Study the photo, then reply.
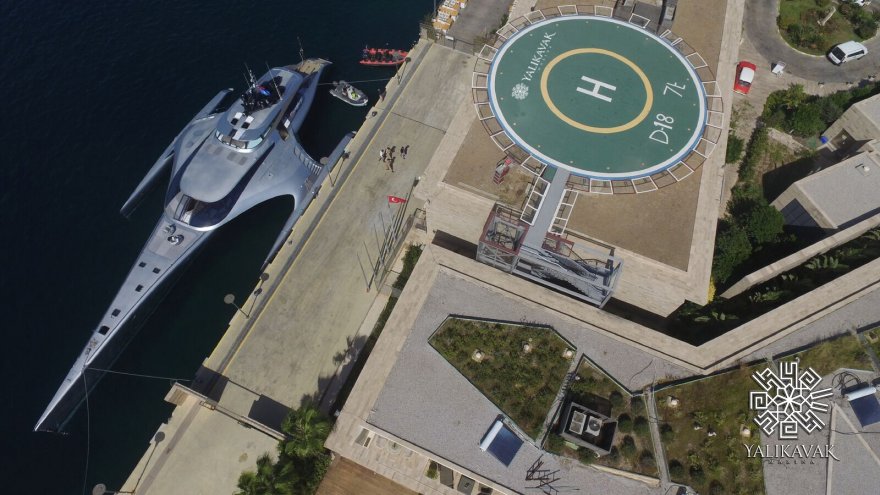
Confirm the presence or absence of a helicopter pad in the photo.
Yes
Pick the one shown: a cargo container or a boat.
boat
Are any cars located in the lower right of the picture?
No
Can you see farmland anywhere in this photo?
No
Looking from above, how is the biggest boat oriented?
at an angle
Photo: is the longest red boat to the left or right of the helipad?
to the left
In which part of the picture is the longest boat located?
left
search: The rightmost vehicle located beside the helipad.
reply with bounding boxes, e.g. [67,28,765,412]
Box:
[734,58,760,95]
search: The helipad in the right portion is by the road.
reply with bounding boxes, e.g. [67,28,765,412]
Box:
[472,4,724,194]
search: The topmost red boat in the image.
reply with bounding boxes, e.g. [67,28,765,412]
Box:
[358,46,410,67]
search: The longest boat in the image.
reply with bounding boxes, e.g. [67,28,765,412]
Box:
[31,41,358,431]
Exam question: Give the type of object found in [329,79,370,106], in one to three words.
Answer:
boat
